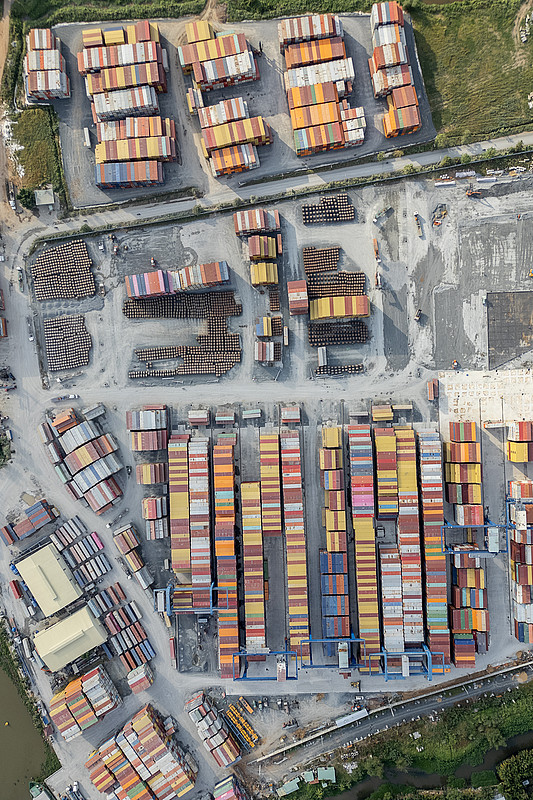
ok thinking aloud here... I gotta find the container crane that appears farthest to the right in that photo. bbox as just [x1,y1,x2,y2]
[499,494,533,531]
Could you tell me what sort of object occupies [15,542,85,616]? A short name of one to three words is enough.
building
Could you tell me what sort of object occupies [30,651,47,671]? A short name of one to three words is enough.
vehicle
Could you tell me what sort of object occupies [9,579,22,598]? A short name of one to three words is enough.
vehicle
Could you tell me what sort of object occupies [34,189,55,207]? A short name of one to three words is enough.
shed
